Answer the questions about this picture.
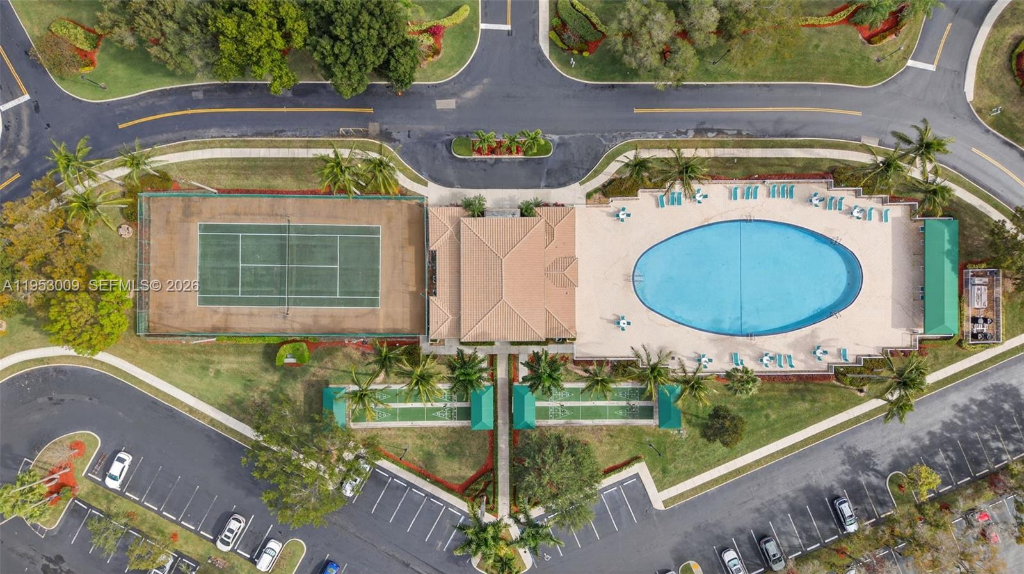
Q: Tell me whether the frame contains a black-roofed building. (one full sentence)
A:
No, there's no black-roofed building here.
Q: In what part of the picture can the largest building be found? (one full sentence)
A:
The largest building is in the center part of the image.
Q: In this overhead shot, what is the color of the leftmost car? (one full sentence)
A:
The color of the leftmost car is white.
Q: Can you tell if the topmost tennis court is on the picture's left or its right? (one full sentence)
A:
It is on the left.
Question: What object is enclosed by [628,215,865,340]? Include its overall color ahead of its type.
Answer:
blue swimming pool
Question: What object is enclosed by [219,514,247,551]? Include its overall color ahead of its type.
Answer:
white car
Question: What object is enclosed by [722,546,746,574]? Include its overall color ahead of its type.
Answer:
white car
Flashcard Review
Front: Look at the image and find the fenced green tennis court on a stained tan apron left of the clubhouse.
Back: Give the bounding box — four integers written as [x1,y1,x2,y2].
[149,197,428,334]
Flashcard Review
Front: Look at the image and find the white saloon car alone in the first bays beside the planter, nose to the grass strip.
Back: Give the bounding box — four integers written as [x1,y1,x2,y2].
[108,451,134,489]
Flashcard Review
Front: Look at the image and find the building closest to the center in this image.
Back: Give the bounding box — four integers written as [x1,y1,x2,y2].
[429,206,579,342]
